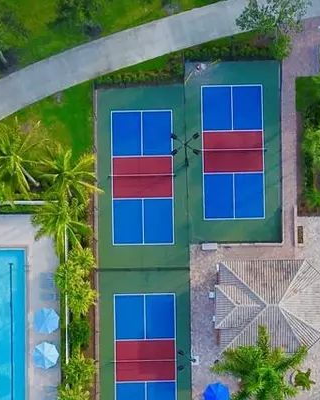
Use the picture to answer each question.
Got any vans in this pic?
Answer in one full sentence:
No, the scene contains no van.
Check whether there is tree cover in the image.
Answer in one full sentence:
Yes, tree cover shows up in the scene.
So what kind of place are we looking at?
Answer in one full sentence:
This looks like a sports ground.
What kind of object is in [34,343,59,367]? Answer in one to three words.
umbrella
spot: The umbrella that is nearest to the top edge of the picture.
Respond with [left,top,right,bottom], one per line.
[34,307,59,333]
